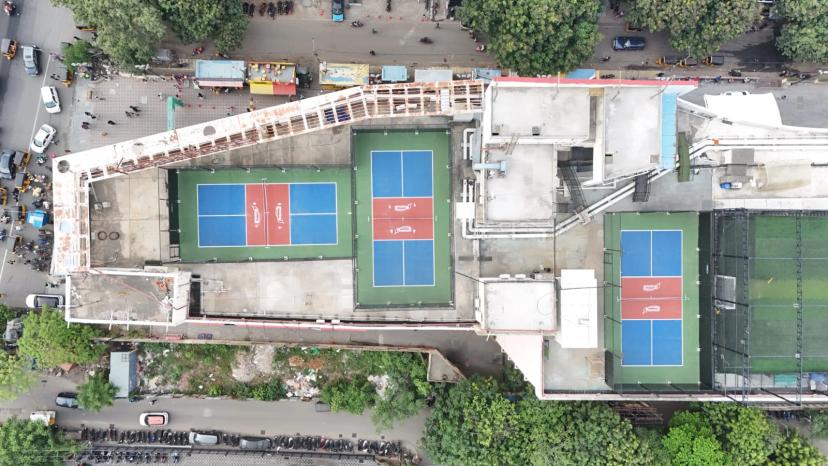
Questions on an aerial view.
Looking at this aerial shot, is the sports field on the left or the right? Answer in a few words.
right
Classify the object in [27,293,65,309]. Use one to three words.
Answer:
car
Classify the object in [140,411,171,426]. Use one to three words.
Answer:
car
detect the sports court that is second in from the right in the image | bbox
[353,130,452,307]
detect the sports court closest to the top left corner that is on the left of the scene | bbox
[179,167,350,262]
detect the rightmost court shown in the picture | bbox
[603,212,701,390]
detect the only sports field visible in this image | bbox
[748,214,828,388]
